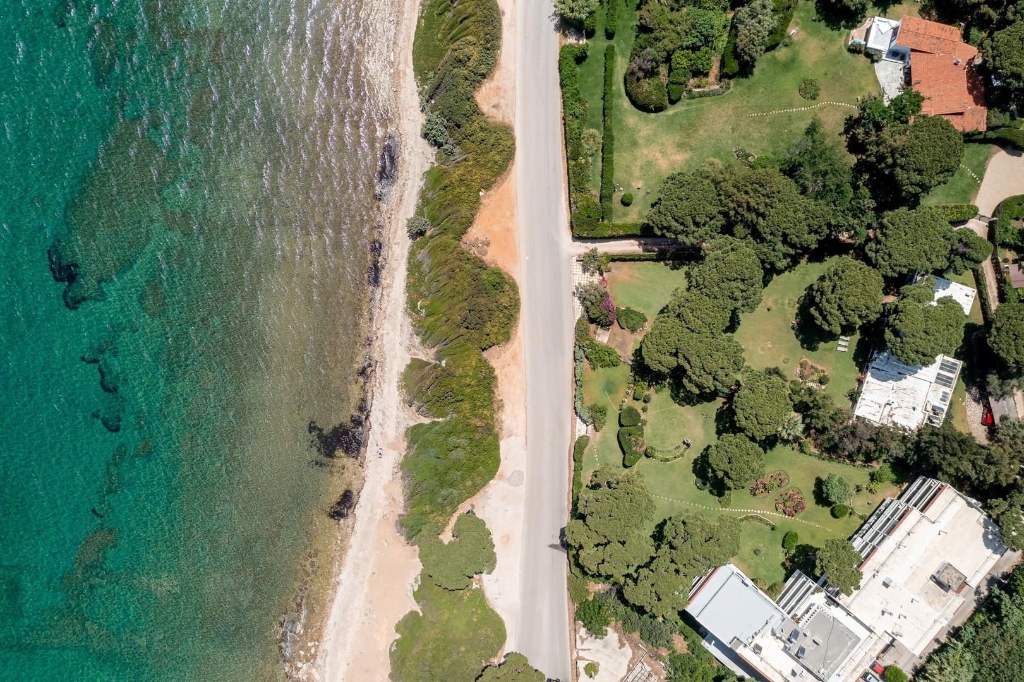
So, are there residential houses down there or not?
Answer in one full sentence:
Yes, a residential house is visible in the scene.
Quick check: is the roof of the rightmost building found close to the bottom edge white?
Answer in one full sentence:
Yes, the roof of the rightmost building found close to the bottom edge is indeed white.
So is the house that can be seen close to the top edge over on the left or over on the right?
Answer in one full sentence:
You can find the house that can be seen close to the top edge on the right side of the picture.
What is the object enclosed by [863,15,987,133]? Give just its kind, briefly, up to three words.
house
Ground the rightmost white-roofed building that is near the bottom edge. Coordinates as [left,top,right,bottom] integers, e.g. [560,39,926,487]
[831,475,1006,658]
